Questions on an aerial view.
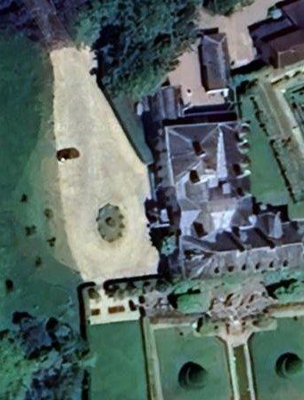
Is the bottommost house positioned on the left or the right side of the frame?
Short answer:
right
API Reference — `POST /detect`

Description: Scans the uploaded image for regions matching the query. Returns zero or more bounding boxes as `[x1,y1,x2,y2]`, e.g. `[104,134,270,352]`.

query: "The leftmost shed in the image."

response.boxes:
[145,86,192,122]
